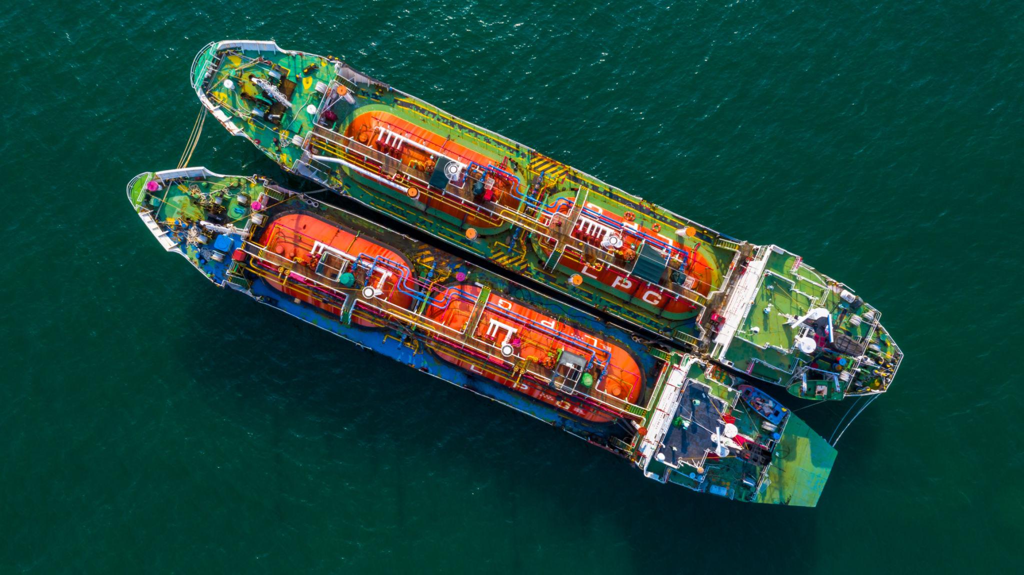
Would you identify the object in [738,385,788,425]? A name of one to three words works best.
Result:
boat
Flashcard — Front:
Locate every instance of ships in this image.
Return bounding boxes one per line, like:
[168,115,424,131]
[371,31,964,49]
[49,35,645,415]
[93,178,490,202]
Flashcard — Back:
[190,38,903,398]
[126,165,837,507]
